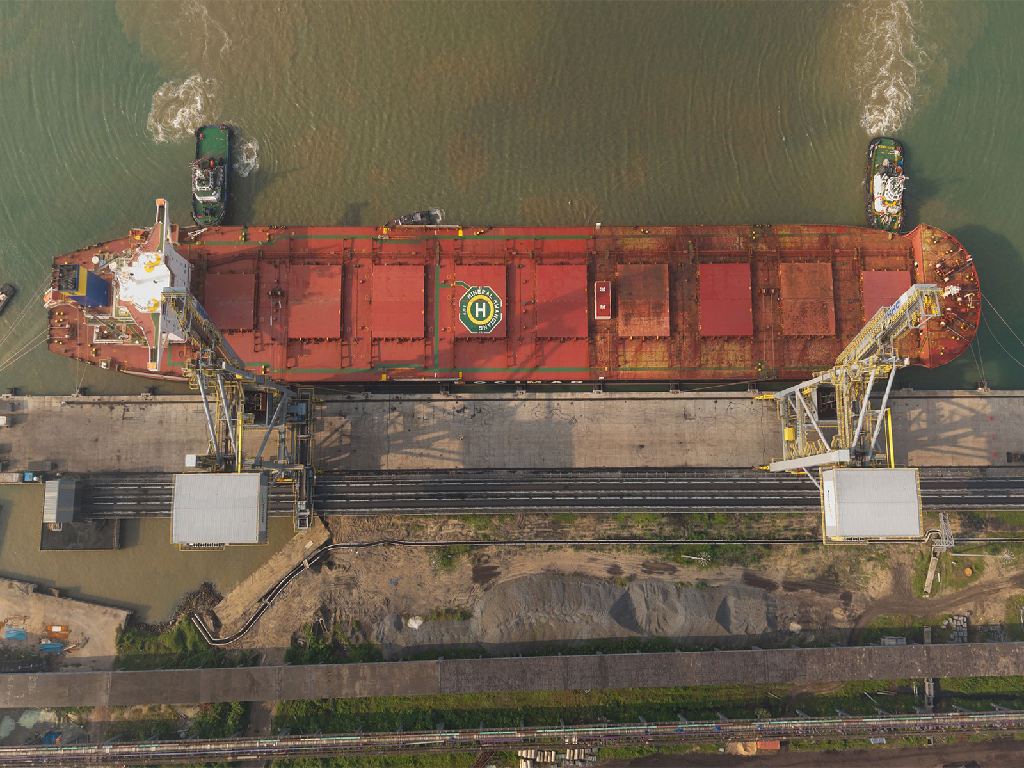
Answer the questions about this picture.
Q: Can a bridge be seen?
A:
Yes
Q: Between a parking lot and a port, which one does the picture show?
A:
port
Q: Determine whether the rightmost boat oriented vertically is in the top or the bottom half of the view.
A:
top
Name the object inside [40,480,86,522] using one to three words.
shed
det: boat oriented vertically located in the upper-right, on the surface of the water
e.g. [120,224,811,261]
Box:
[866,135,910,231]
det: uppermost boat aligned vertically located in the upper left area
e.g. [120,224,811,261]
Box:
[192,125,232,226]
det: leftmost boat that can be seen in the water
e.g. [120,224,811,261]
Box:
[0,278,22,317]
